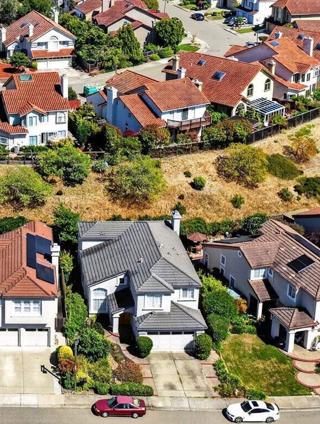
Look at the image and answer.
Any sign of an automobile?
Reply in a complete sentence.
Yes, I can see an automobile in this picture.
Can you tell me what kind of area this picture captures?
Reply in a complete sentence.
What you see here is a residential area.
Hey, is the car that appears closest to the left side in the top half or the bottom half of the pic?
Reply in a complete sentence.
Seen from above, the car that appears closest to the left side lies in the bottom half of the view.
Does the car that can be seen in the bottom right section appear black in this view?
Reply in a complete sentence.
No, the car that can be seen in the bottom right section is white.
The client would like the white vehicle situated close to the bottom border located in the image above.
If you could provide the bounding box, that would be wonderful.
[224,397,284,424]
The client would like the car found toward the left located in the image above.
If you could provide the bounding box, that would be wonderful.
[93,394,148,420]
